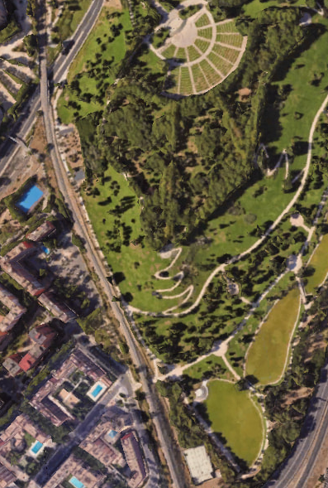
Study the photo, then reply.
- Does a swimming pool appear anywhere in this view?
Yes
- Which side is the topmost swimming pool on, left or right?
left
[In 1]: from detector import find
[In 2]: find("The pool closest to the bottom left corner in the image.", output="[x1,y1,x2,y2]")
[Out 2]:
[27,441,46,457]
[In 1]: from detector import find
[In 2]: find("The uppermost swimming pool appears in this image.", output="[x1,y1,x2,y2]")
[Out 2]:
[16,184,42,212]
